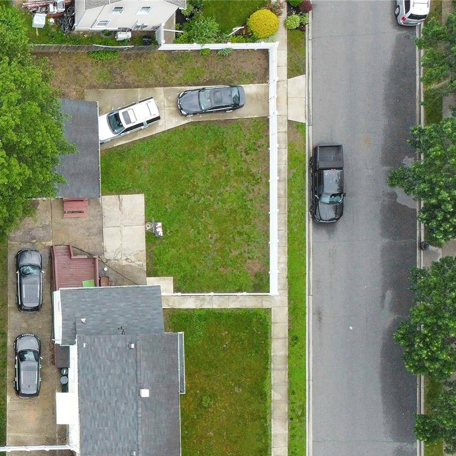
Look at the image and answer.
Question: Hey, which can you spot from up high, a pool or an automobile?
automobile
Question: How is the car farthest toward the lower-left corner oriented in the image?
up and down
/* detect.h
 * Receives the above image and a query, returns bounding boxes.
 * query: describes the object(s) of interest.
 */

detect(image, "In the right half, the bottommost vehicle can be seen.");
[306,144,345,224]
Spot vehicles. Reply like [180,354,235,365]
[306,144,345,224]
[101,97,161,145]
[173,86,242,119]
[390,0,427,31]
[13,334,43,399]
[14,248,45,312]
